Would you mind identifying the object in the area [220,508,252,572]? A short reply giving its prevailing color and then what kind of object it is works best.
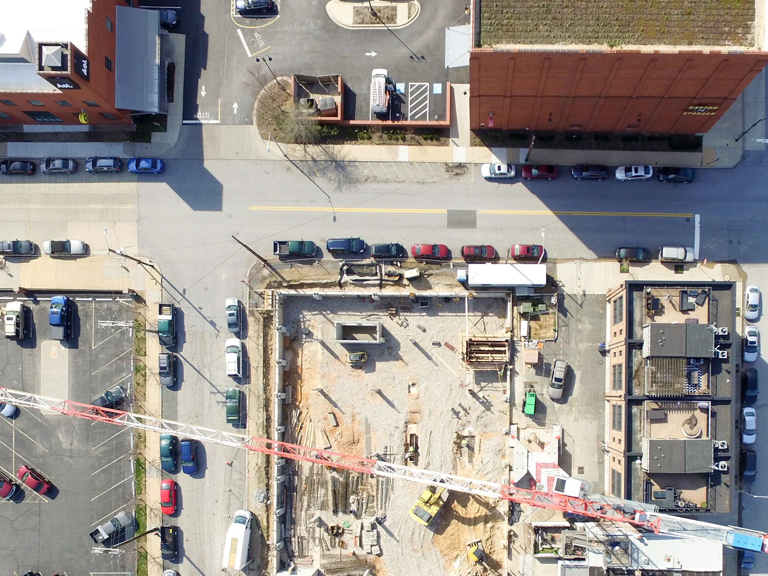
white van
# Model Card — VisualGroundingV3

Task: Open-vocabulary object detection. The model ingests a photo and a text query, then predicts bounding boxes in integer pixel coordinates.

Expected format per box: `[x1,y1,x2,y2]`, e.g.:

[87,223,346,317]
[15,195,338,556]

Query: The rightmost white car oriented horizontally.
[657,244,695,262]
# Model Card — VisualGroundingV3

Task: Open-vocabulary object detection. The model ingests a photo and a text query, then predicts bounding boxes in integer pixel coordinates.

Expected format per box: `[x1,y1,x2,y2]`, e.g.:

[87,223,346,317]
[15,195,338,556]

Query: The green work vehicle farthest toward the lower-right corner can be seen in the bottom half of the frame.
[522,384,539,414]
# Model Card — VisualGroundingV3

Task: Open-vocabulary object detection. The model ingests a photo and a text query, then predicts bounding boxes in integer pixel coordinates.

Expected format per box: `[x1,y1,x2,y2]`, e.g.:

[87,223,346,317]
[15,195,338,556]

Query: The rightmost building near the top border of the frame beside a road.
[471,0,768,135]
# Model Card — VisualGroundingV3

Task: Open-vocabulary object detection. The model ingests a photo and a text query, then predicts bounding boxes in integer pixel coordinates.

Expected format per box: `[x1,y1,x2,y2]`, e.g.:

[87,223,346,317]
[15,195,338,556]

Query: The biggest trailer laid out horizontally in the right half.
[462,263,555,300]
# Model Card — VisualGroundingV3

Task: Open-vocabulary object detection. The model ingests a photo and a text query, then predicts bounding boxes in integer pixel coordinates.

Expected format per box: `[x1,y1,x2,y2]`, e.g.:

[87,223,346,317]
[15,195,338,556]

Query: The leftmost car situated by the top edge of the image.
[161,8,180,28]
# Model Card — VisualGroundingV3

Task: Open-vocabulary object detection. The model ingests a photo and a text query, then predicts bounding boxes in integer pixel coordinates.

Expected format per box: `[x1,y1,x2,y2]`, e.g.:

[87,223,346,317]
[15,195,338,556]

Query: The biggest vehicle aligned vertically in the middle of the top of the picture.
[371,67,390,115]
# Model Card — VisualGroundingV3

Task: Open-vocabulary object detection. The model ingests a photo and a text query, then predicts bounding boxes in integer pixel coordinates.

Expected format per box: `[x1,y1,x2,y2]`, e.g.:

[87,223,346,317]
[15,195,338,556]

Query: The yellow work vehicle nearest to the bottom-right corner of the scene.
[460,539,491,576]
